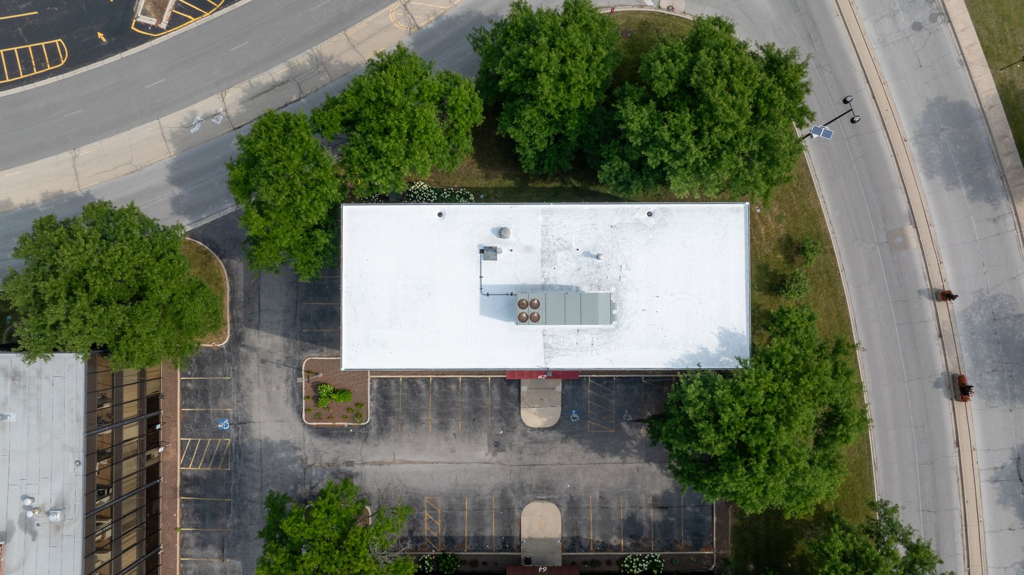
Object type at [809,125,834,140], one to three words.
solar panel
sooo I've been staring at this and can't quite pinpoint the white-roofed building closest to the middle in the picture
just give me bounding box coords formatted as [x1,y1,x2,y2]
[340,202,751,379]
